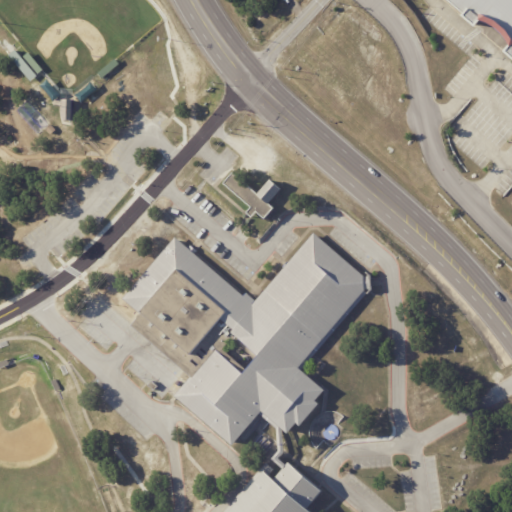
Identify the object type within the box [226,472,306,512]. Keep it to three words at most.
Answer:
building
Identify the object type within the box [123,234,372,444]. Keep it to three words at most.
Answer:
building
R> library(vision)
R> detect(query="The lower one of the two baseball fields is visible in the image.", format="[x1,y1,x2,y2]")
[0,358,107,512]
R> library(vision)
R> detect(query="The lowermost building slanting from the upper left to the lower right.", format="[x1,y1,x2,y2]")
[276,464,321,508]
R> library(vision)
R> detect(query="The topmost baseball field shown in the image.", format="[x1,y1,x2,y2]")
[0,0,161,91]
